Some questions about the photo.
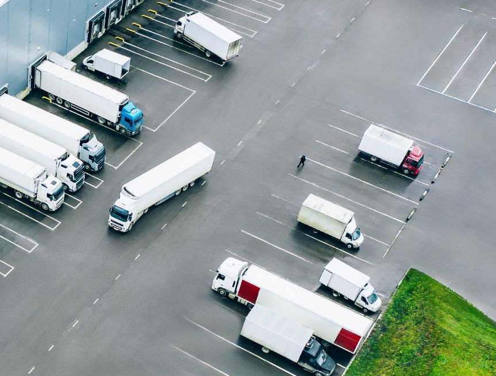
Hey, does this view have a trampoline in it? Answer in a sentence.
No, I can't see a single trampoline in this photo.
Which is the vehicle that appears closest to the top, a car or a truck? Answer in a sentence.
The vehicle that appears closest to the top appears to be a truck.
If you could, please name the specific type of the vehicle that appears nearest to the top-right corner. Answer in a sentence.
It looks like the vehicle that appears nearest to the top-right corner is a truck.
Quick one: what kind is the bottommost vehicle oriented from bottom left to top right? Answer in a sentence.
The bottommost vehicle oriented from bottom left to top right can be classified as a truck.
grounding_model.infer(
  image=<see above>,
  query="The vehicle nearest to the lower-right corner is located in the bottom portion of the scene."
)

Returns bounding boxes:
[318,258,381,312]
